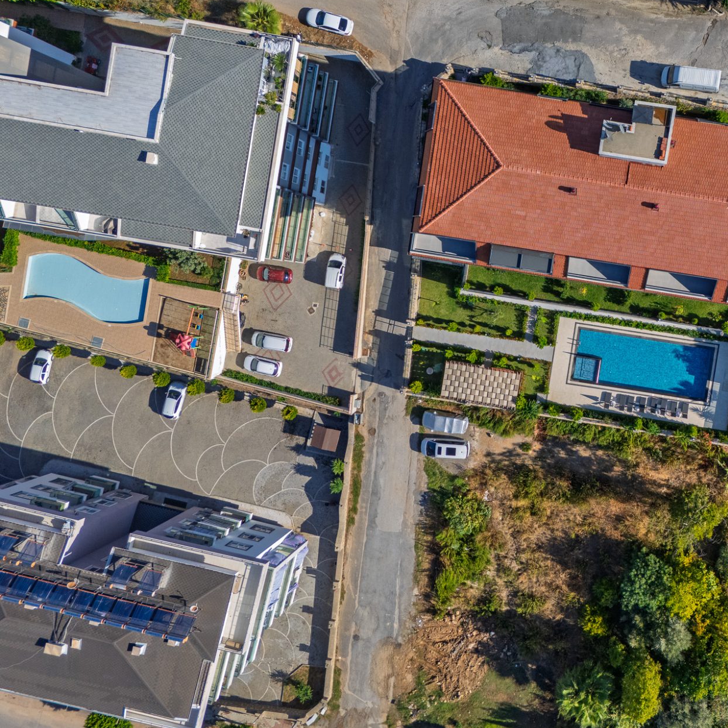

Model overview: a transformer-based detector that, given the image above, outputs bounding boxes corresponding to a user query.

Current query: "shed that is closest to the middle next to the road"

[306,410,351,458]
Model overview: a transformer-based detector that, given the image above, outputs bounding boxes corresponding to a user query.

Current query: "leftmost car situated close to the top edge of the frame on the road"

[304,7,355,38]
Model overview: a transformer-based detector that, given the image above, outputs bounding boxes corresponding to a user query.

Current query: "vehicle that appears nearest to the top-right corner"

[661,63,722,94]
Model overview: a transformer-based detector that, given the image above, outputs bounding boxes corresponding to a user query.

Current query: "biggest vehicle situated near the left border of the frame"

[24,349,57,386]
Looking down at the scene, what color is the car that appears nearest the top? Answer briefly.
white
